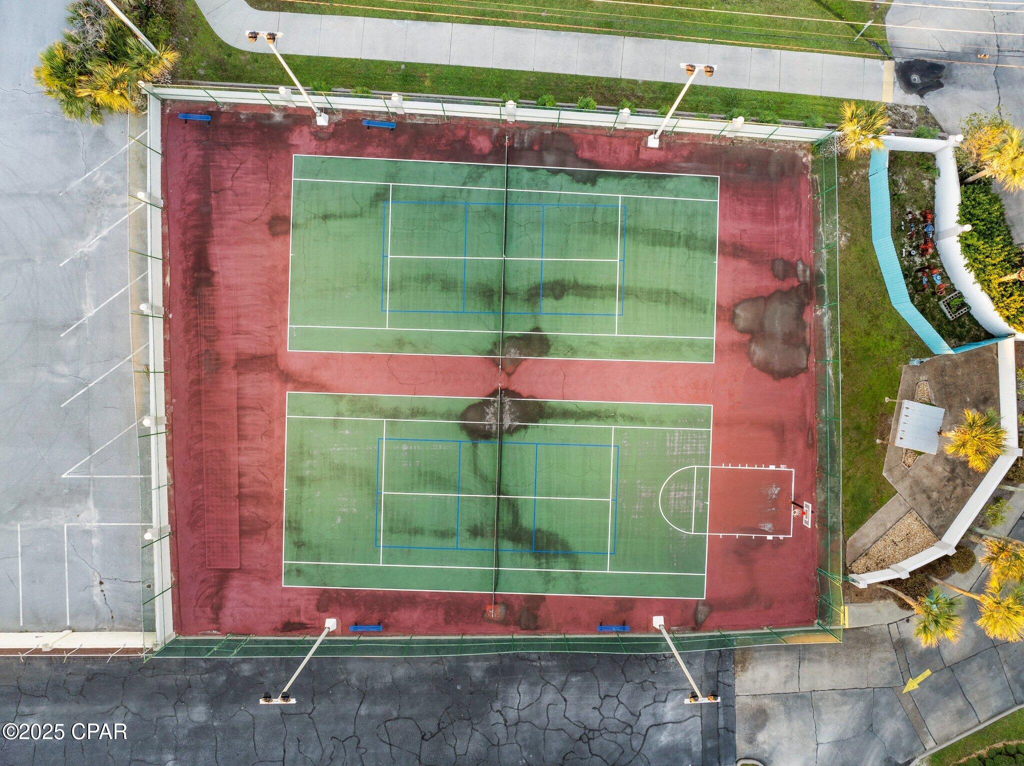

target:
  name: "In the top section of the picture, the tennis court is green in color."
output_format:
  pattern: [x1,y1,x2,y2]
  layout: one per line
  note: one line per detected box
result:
[287,154,720,363]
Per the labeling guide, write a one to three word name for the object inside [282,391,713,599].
tennis court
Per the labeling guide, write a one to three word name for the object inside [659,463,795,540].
basketball court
